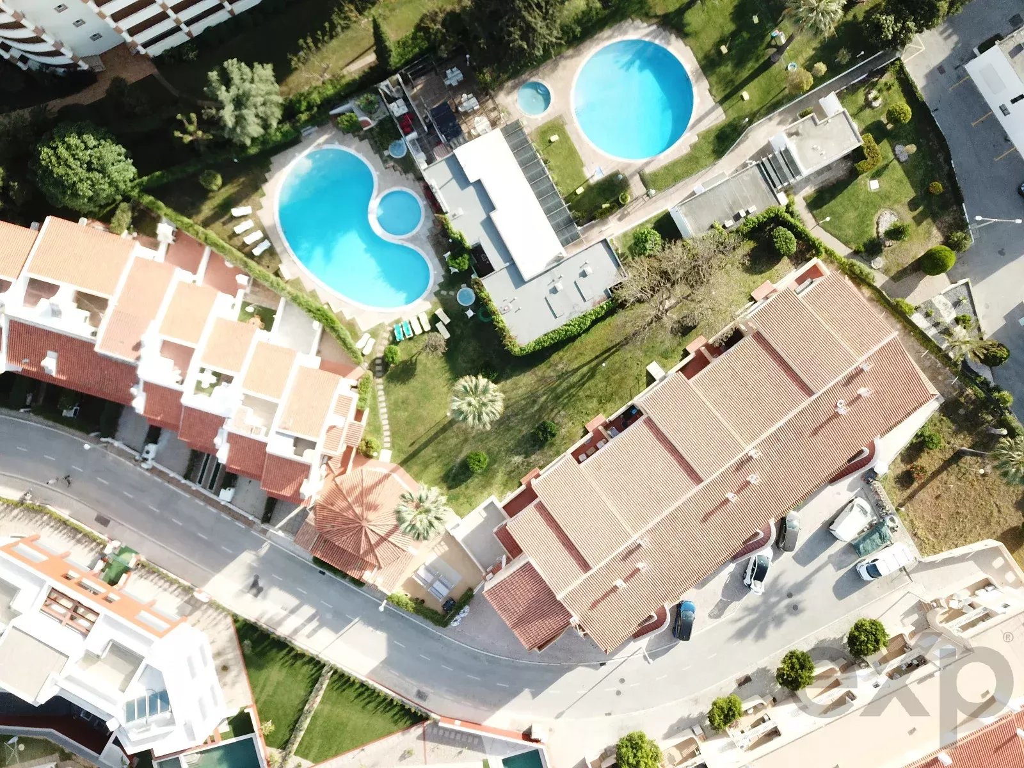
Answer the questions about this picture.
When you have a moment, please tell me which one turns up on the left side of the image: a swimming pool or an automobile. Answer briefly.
swimming pool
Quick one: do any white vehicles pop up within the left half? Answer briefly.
No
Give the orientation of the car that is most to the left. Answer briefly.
up and down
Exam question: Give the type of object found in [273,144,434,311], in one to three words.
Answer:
swimming pool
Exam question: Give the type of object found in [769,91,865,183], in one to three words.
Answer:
building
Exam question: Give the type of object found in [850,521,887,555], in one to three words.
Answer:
trailer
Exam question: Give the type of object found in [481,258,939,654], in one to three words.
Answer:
building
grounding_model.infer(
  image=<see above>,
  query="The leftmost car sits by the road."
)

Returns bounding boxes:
[673,599,697,642]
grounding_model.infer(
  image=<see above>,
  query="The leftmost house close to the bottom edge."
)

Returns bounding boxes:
[0,525,226,757]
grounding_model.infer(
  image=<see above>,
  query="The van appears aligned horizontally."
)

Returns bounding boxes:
[855,546,913,579]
